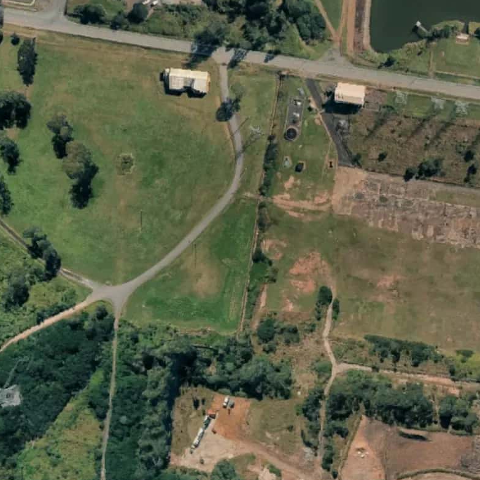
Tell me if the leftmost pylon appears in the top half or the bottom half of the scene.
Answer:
bottom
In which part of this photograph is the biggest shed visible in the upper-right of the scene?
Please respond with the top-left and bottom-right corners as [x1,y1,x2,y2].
[335,82,367,106]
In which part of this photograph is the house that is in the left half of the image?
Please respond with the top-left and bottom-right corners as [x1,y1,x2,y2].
[163,68,208,92]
